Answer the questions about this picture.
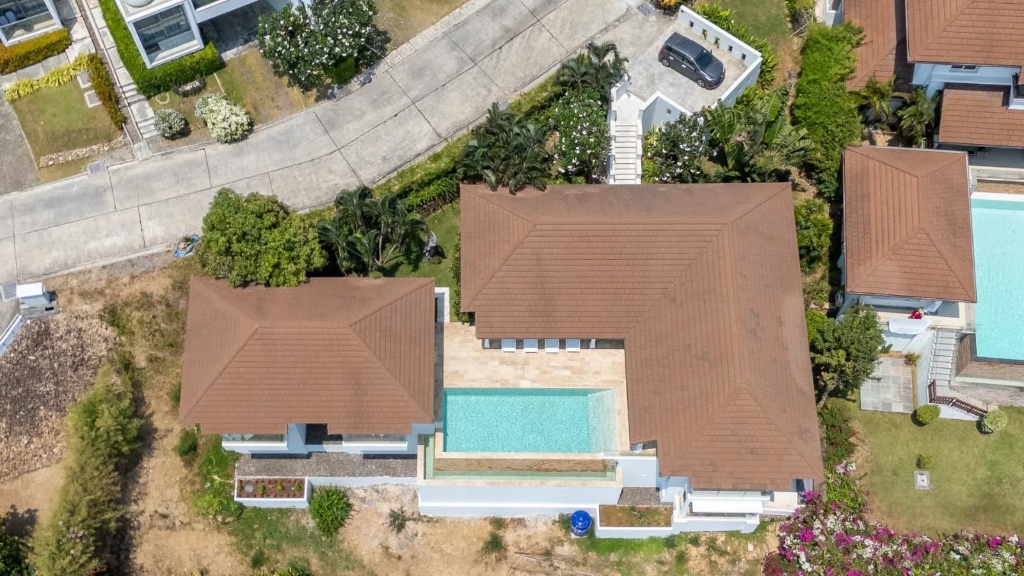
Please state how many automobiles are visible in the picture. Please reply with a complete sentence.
The count comes to 1 automobile.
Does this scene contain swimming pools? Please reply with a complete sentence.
Yes, you can see a swimming pool in this photo.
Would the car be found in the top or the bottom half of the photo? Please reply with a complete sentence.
You can find the car in the top half.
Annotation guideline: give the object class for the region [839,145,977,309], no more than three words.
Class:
building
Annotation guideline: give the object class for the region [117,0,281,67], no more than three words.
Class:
house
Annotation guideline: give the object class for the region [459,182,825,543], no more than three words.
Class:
house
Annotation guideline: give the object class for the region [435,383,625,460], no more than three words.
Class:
swimming pool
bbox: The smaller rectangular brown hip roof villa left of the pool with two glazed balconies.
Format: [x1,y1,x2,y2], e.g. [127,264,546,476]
[178,275,436,461]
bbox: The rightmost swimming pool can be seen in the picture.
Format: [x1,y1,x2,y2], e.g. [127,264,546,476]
[947,193,1024,415]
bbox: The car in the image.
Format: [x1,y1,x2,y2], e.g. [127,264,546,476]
[656,29,726,87]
